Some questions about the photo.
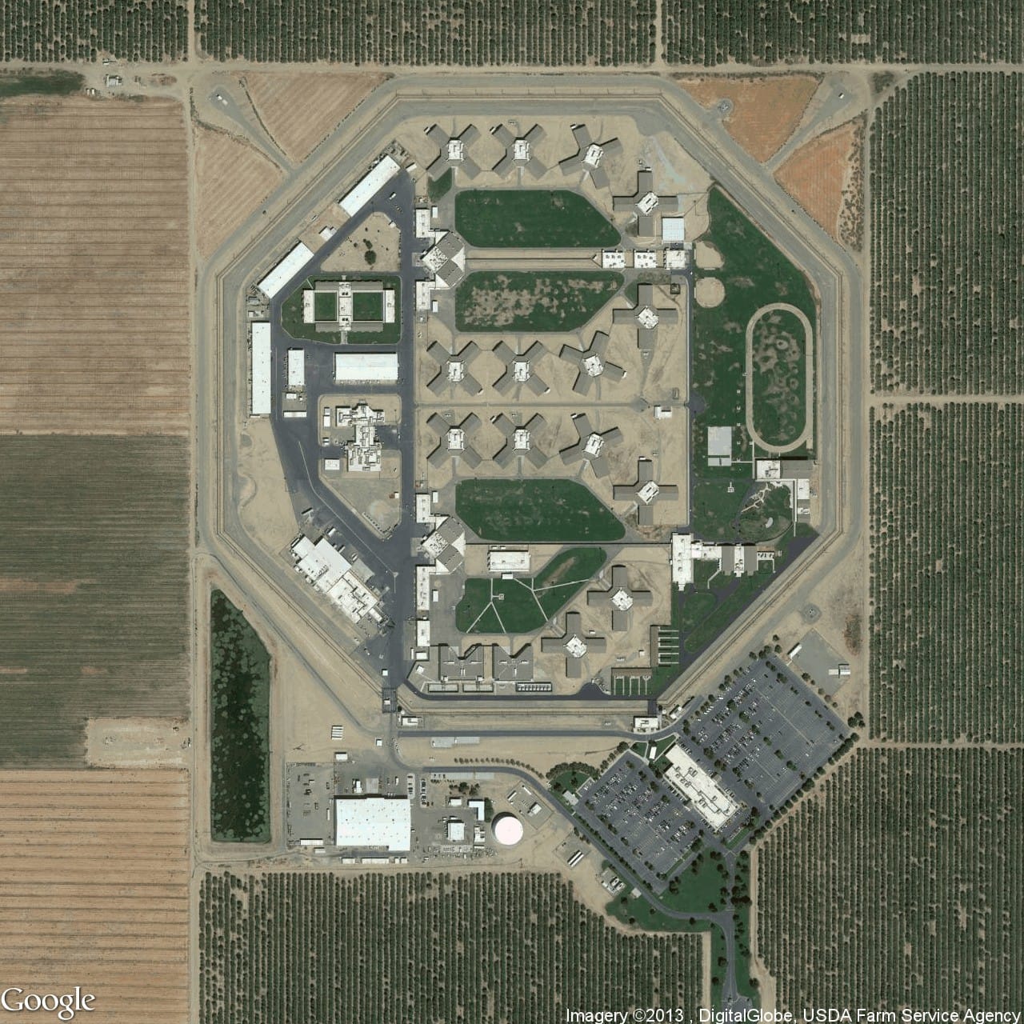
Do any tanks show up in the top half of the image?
No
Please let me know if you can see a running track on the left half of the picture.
No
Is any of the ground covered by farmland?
Yes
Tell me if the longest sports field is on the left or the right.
right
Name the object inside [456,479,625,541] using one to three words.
sports field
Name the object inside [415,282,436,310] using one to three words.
building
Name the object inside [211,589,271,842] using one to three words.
pond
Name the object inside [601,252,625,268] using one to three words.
building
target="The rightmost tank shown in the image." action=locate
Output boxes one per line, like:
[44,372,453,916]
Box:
[491,814,523,846]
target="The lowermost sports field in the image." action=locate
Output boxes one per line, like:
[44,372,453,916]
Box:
[456,548,606,634]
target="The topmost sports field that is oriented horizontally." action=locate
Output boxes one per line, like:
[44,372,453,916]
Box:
[455,190,620,247]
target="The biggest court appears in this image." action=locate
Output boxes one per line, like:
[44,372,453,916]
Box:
[708,426,731,455]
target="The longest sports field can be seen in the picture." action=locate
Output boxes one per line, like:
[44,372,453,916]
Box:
[693,188,816,481]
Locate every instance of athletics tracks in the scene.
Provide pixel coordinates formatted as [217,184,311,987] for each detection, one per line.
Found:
[746,302,813,453]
